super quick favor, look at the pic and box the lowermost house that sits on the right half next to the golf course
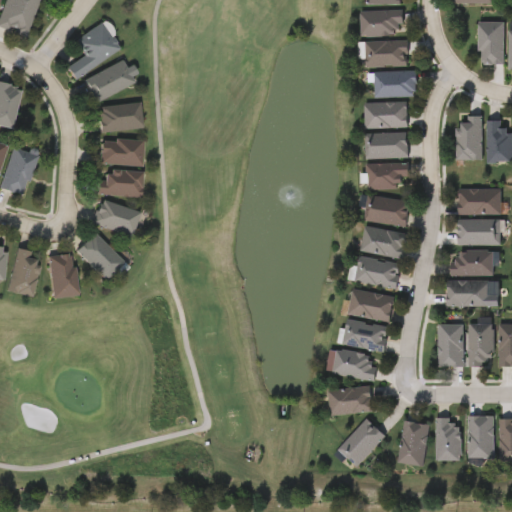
[335,419,386,466]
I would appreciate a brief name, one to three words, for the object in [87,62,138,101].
house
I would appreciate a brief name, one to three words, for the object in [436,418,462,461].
house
